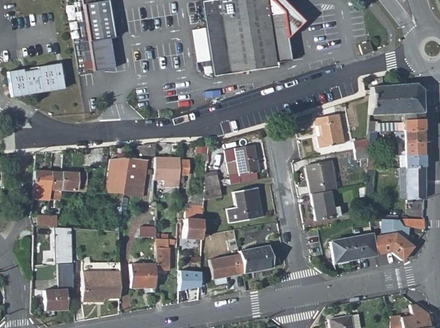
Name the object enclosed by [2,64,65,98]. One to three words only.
building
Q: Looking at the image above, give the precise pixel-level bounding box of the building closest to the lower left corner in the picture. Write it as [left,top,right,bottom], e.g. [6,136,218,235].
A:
[42,288,70,312]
